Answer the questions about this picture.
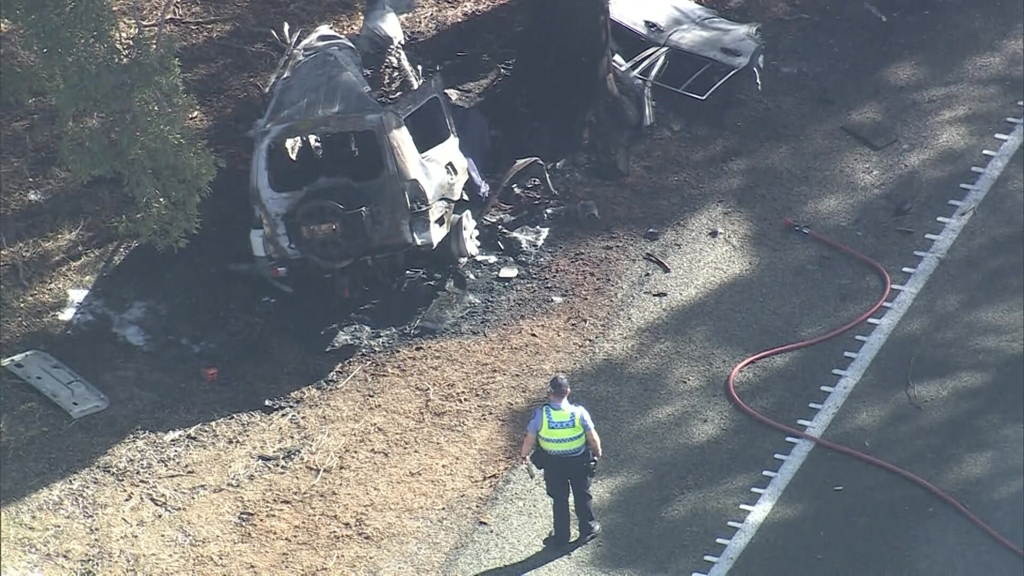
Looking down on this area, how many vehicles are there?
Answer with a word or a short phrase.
1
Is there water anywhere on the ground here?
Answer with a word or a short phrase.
No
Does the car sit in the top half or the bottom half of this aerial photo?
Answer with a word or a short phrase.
top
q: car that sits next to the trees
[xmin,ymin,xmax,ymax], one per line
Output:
[251,23,484,298]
